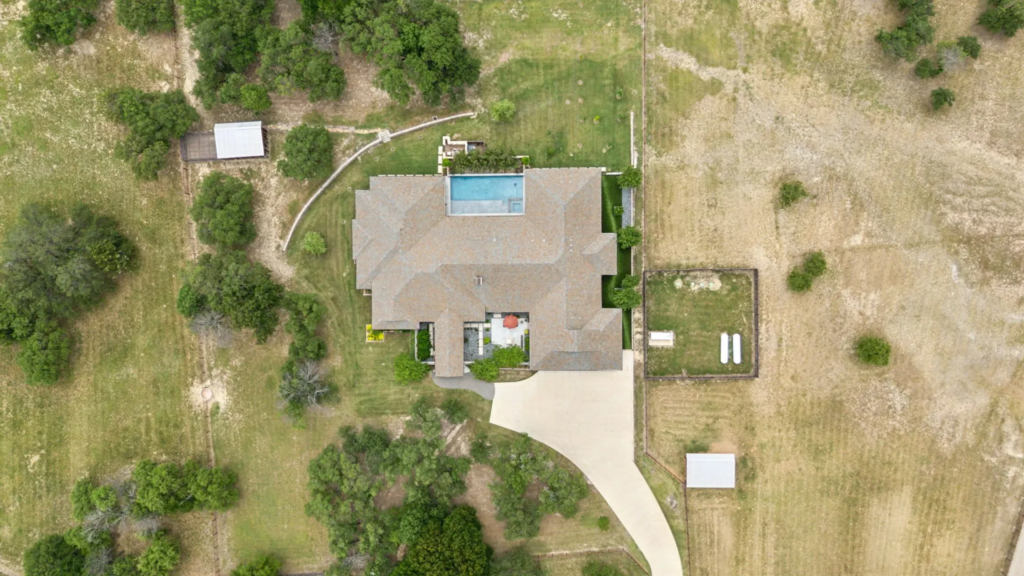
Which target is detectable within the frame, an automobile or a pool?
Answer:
pool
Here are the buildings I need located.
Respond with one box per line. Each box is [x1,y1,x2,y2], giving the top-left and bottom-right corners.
[684,451,738,490]
[211,121,269,161]
[351,168,623,377]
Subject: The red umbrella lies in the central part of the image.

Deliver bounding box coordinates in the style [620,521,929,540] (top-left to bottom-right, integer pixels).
[504,315,517,329]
